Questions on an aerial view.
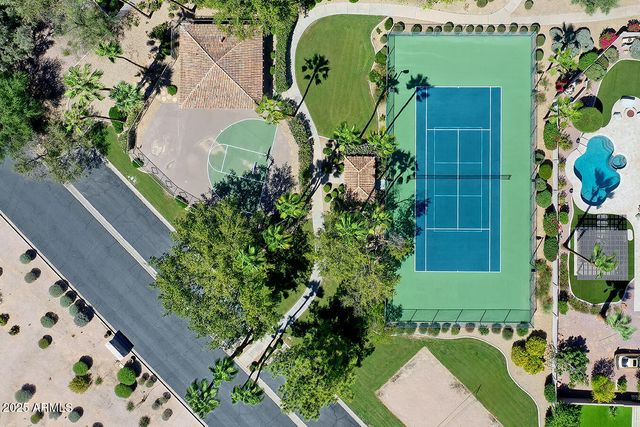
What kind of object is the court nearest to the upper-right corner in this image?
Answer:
tennis court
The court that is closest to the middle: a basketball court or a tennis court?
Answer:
basketball court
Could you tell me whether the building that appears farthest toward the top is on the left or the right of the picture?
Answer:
left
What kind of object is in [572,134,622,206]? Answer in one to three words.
swimming pool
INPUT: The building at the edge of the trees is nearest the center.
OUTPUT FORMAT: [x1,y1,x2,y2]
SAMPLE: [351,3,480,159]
[343,154,376,199]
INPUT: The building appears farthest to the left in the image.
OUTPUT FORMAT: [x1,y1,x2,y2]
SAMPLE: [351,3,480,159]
[179,23,264,109]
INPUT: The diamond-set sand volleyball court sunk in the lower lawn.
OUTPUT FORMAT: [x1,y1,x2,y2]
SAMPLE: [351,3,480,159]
[375,346,503,427]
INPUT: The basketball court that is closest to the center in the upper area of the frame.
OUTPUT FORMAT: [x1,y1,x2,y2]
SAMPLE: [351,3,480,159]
[206,119,278,210]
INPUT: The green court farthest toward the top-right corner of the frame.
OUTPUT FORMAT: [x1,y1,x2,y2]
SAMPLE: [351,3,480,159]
[387,35,531,322]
